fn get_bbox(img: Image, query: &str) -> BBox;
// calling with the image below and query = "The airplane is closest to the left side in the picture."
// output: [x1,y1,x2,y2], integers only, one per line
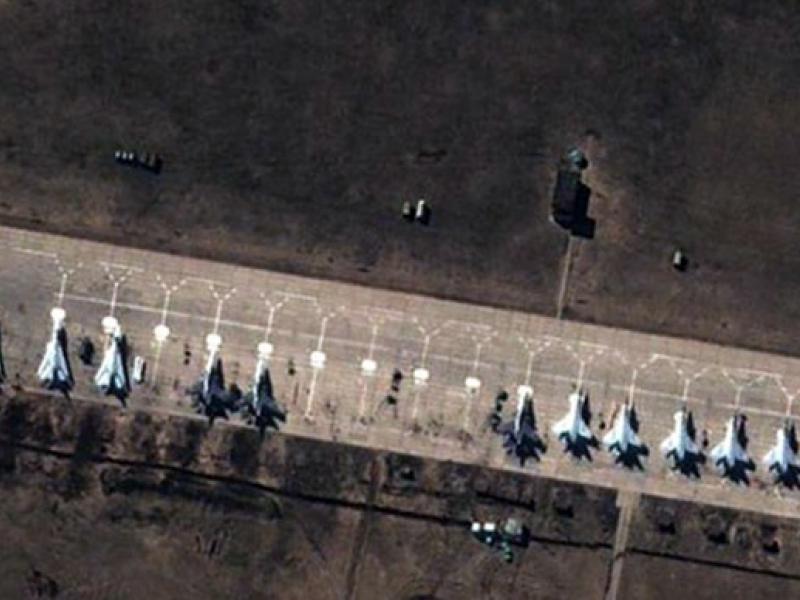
[38,320,69,384]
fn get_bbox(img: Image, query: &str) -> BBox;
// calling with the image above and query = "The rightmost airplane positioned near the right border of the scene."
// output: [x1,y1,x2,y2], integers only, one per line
[763,416,800,477]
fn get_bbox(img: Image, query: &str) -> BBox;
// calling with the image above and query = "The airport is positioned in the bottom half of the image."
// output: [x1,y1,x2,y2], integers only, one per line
[0,228,800,516]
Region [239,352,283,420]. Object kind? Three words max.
airplane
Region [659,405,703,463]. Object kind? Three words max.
airplane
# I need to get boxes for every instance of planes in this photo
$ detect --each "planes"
[603,397,646,458]
[495,388,539,452]
[187,345,230,411]
[38,320,69,384]
[710,413,754,472]
[96,326,127,392]
[763,416,800,477]
[553,387,597,447]
[659,405,703,463]
[239,352,283,420]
